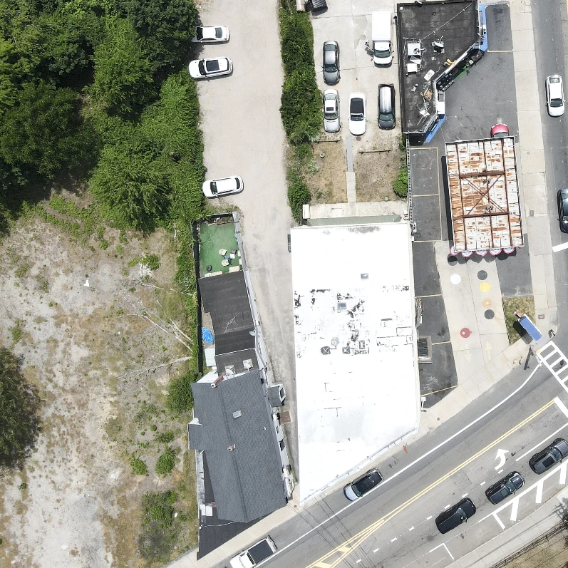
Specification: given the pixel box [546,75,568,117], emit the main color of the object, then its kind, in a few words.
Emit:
white car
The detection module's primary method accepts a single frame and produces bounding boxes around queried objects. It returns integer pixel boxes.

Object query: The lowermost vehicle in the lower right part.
[434,500,478,536]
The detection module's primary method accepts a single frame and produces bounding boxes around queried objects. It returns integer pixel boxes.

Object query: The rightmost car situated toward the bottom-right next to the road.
[527,439,568,475]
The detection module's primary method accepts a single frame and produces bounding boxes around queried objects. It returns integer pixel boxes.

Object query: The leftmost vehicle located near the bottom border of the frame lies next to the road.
[229,534,281,568]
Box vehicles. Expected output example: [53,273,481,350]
[546,75,568,117]
[192,23,231,45]
[322,88,341,134]
[364,5,395,68]
[322,40,341,86]
[341,466,385,502]
[203,175,245,197]
[527,439,568,475]
[557,188,568,234]
[188,56,234,78]
[484,471,526,505]
[229,534,281,568]
[347,92,368,137]
[434,500,478,536]
[376,82,398,131]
